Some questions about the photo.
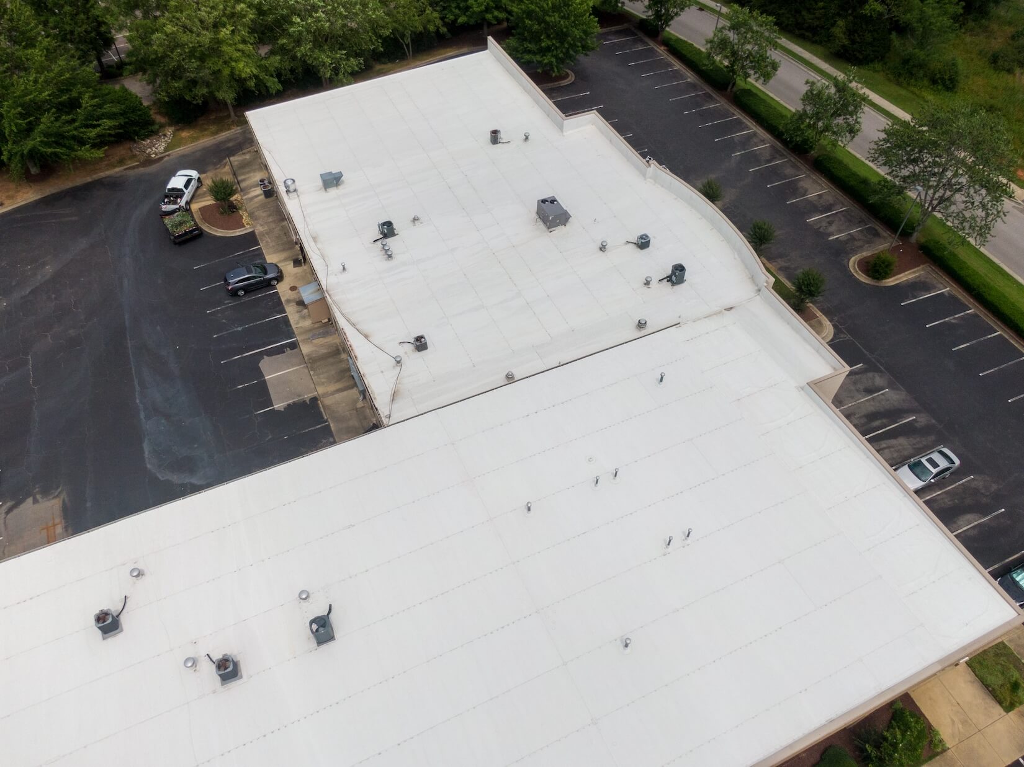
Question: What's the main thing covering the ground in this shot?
buildings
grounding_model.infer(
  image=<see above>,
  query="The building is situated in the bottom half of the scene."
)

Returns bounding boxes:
[0,287,1024,767]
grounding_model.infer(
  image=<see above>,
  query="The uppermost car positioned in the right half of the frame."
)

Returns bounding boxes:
[894,445,966,494]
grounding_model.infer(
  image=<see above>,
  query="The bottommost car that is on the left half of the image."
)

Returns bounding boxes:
[220,260,284,296]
